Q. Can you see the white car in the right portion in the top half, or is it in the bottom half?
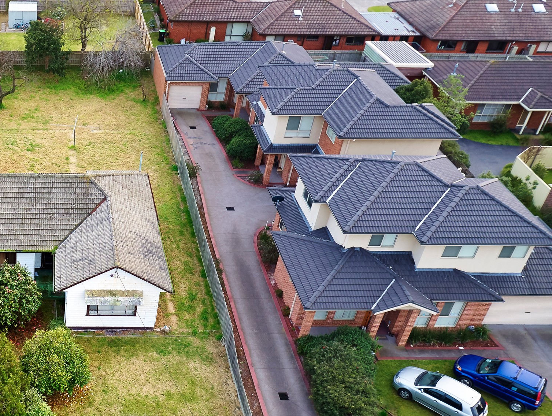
bottom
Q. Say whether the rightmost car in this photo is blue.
Yes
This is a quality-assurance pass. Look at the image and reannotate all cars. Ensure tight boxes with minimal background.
[449,355,552,415]
[392,369,491,416]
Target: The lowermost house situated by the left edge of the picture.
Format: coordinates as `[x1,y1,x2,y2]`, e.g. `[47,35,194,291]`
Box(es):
[0,153,178,333]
